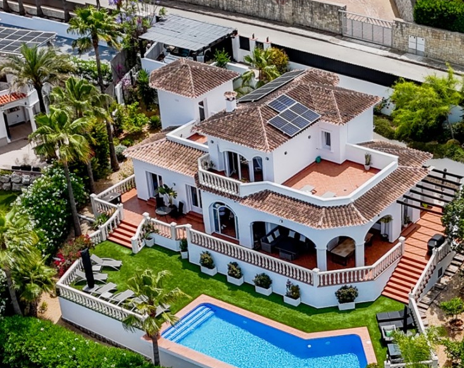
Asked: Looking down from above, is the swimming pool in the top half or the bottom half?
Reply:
bottom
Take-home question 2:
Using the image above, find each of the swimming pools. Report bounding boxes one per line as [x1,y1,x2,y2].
[141,293,380,368]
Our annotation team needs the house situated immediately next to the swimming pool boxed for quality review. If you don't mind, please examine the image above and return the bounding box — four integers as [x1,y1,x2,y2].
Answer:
[123,65,462,272]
